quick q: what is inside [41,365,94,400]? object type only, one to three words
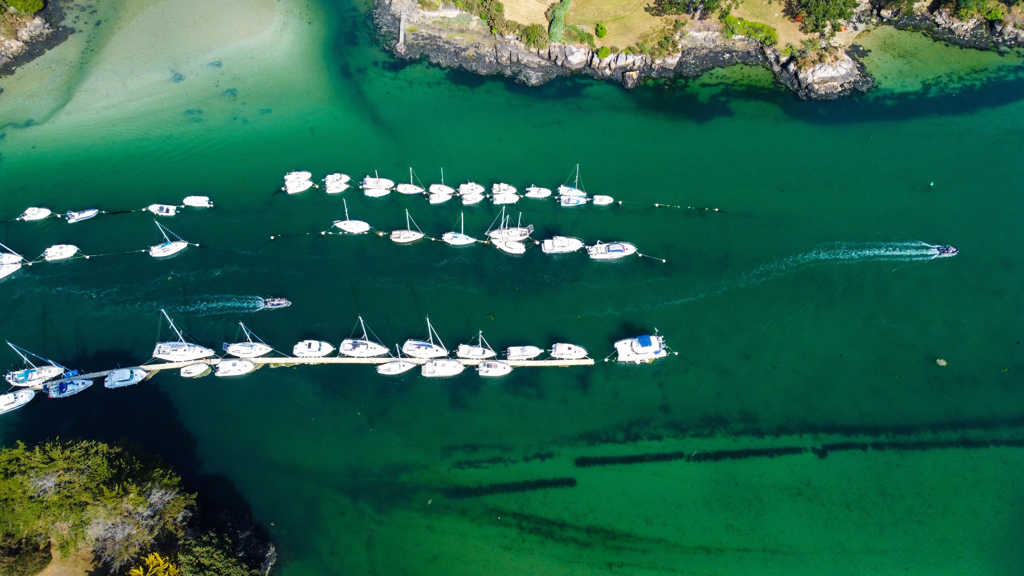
boat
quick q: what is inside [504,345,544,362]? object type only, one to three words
boat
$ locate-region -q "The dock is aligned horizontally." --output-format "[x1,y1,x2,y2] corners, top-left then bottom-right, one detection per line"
[7,357,593,393]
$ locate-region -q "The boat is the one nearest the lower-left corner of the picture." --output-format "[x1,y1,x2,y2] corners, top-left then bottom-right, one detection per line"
[0,389,35,412]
